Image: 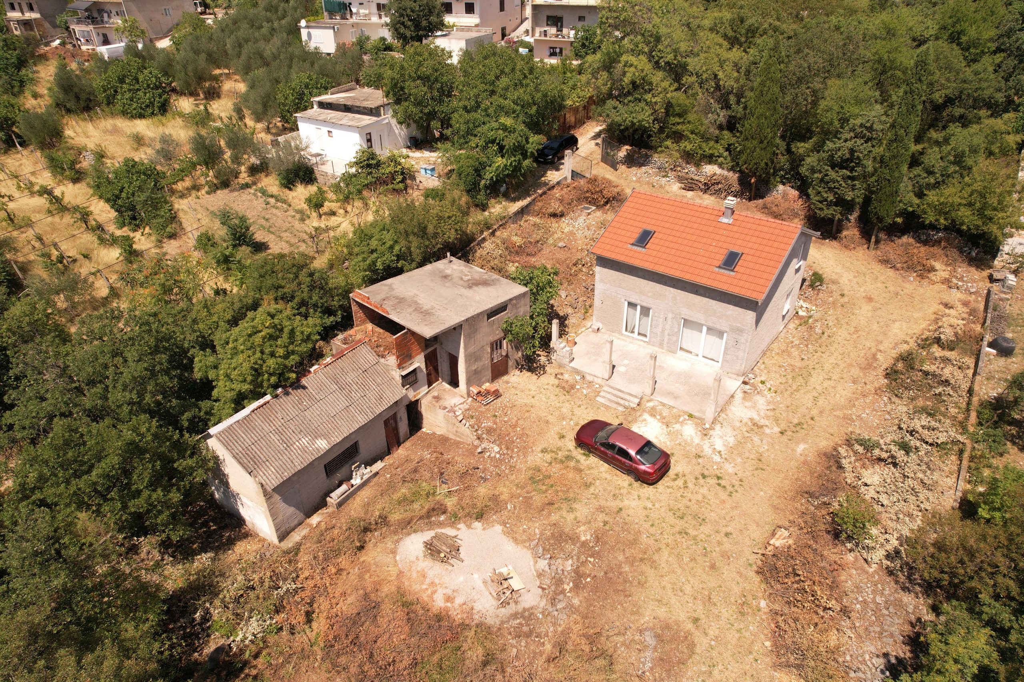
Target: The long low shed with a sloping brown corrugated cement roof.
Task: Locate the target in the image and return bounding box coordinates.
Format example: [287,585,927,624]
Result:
[203,338,411,544]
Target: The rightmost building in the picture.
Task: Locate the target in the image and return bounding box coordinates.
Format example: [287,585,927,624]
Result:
[588,188,822,382]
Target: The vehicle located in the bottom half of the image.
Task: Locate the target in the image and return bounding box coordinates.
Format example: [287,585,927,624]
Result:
[574,416,676,487]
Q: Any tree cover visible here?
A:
Yes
